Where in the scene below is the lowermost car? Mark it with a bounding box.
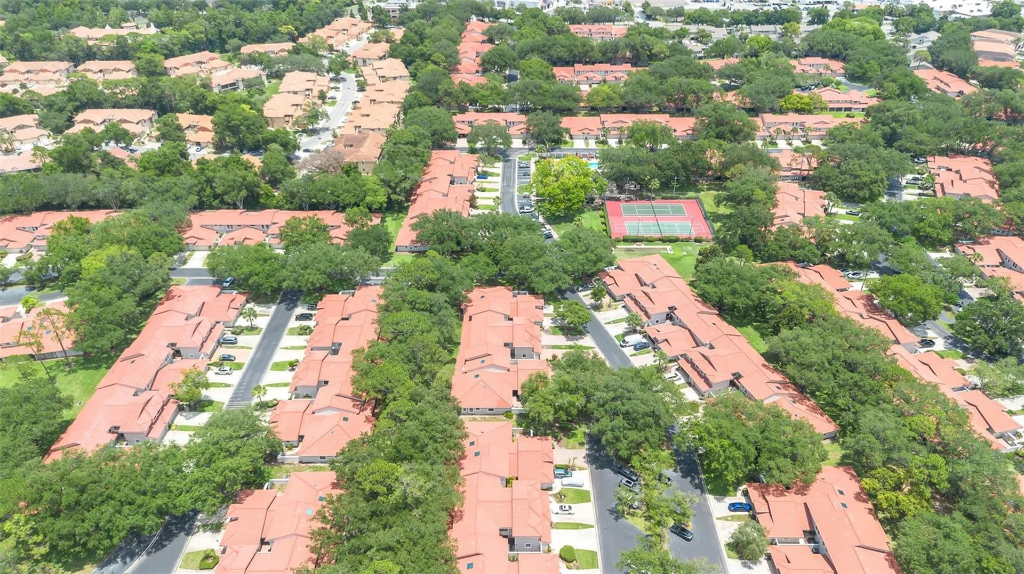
[669,525,694,542]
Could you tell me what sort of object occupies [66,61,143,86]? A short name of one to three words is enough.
house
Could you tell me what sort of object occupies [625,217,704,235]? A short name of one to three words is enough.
tennis court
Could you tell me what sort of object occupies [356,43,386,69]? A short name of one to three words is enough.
house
